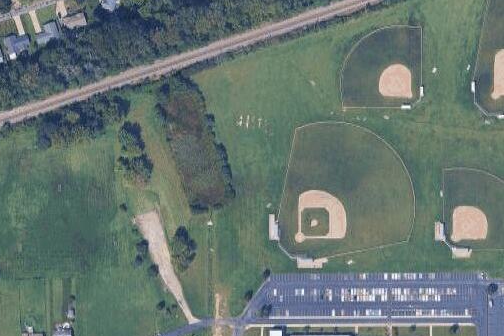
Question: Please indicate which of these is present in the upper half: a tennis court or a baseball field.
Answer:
baseball field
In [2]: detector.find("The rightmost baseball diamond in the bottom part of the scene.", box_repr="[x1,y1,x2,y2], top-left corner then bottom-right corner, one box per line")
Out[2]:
[442,166,504,251]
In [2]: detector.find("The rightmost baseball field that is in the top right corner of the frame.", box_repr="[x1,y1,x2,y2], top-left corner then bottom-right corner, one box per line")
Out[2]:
[474,0,504,114]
